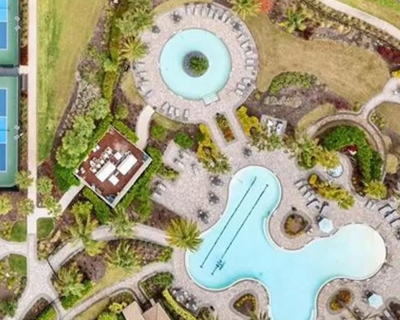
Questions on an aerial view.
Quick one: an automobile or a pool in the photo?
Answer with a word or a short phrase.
pool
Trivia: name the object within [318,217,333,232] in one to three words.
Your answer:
umbrella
